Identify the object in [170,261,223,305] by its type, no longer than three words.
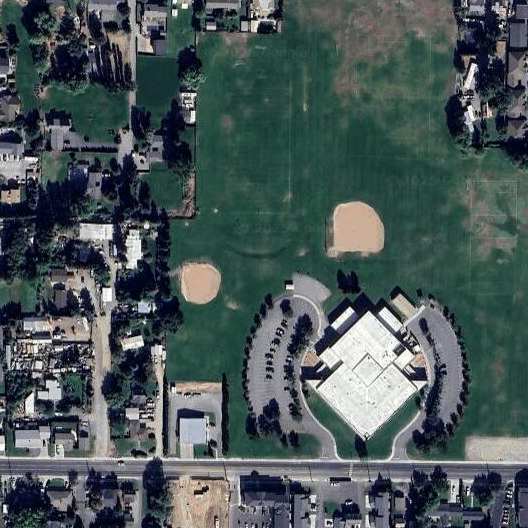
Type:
baseball field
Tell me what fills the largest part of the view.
grass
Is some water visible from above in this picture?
No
